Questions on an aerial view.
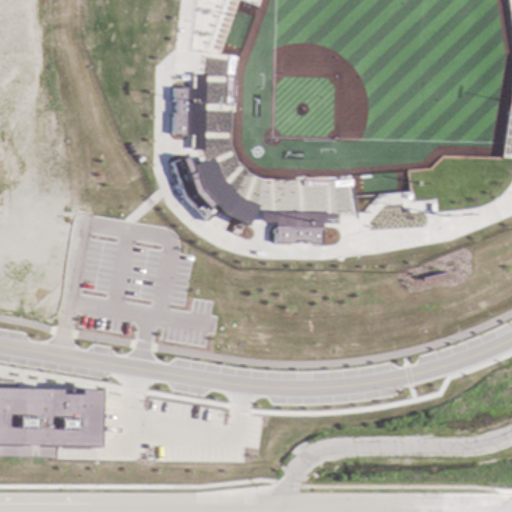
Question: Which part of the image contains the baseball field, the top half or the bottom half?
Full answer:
It is in the top half that the baseball field appears.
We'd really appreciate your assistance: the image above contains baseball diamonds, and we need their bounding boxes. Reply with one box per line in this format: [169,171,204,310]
[234,0,512,179]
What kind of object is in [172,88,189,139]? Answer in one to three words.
building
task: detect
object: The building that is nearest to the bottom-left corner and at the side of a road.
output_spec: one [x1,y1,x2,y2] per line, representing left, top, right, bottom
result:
[0,388,104,458]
